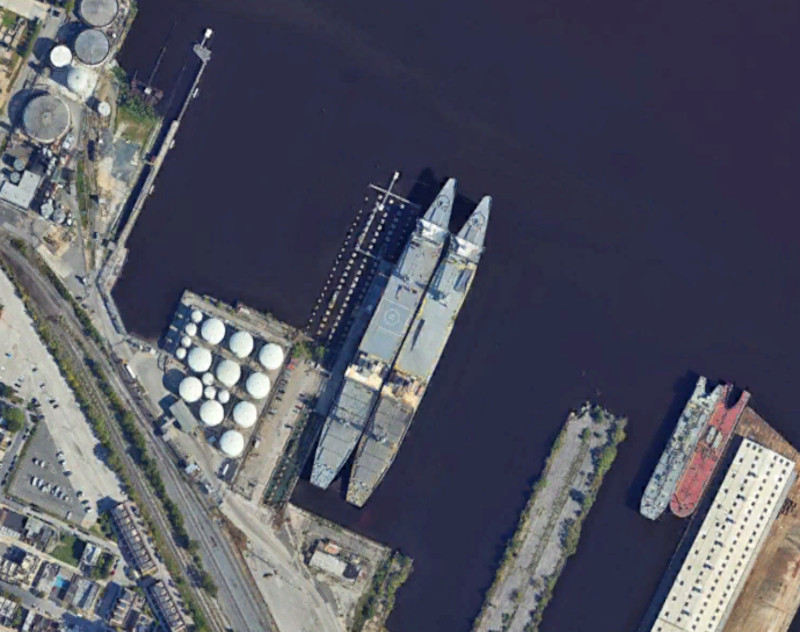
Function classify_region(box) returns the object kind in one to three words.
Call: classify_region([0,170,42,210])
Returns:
building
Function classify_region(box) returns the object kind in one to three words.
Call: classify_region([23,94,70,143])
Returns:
storage tank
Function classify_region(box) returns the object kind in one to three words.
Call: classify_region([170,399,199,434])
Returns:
shed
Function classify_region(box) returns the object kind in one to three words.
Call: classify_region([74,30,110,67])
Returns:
storage tank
